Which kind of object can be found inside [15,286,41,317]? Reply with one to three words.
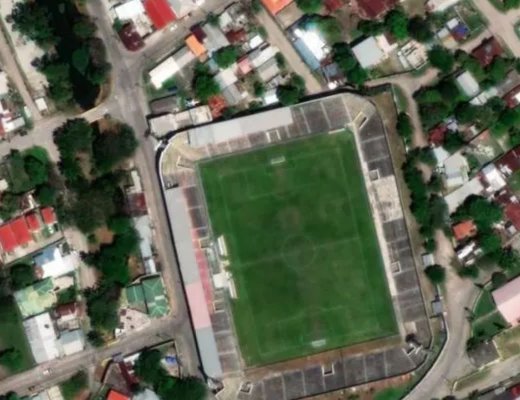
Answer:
house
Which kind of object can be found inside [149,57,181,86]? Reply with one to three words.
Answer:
building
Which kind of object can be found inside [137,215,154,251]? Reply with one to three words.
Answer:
house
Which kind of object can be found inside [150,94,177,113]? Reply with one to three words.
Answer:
shed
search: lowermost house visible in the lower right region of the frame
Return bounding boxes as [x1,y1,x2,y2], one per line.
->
[471,340,501,370]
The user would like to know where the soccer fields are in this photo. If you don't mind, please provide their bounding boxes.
[199,128,401,366]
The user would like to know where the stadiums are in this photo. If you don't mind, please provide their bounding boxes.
[161,92,433,400]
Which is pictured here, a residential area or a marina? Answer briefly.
residential area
